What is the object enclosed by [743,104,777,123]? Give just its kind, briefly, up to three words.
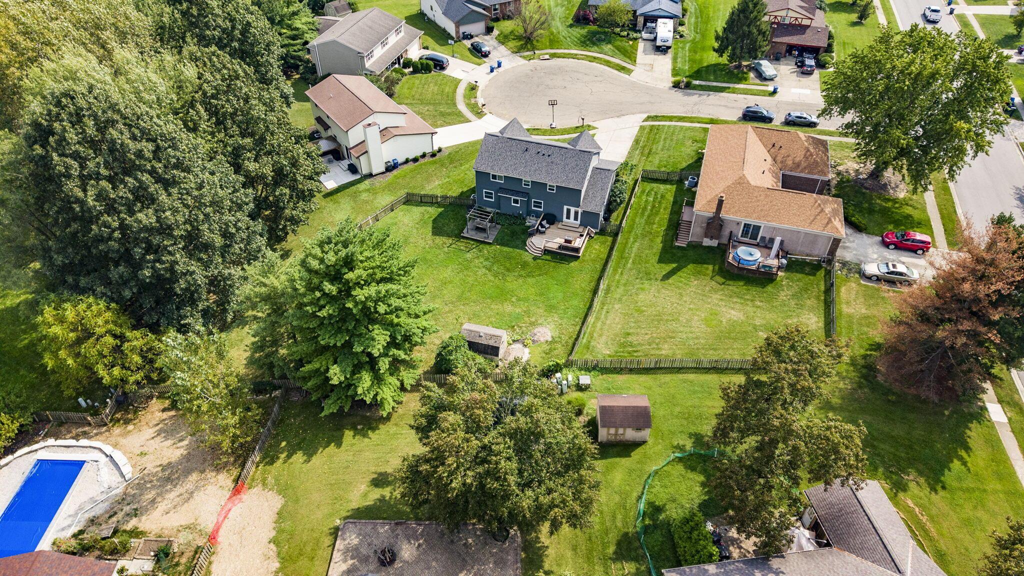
car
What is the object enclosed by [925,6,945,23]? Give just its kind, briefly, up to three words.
vehicle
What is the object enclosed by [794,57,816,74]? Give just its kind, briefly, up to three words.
car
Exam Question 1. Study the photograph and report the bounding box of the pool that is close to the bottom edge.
[0,450,92,556]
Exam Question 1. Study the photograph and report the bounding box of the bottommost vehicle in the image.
[864,262,923,287]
